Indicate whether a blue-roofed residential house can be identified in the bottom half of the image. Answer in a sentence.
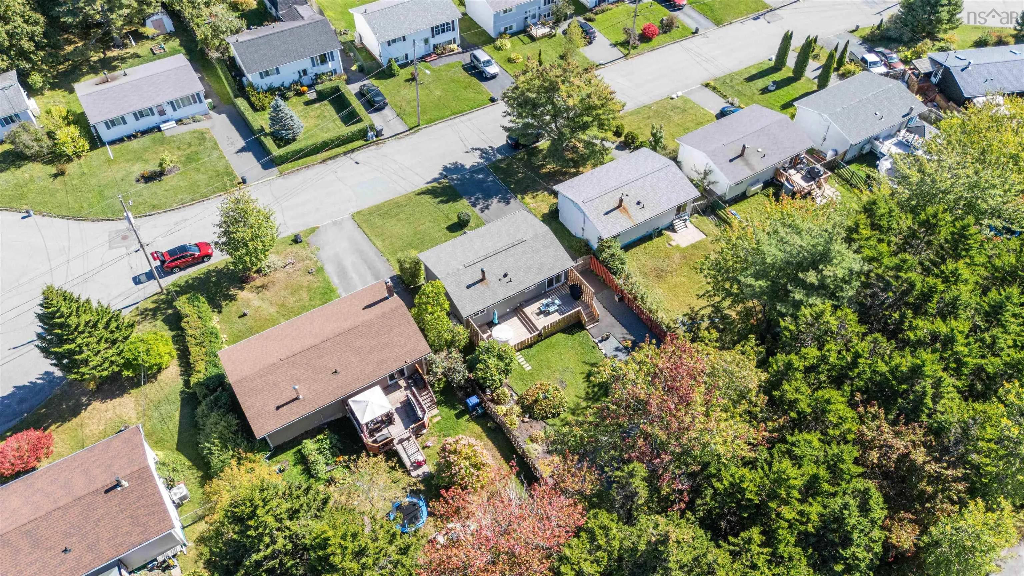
No, the scene shows no blue-roofed residential house in the bottom half of the image.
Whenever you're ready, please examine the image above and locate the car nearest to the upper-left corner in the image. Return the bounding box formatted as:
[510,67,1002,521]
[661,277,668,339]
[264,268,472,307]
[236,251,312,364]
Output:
[144,241,215,274]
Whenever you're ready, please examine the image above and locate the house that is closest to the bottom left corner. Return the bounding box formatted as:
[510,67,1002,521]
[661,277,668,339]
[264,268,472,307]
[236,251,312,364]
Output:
[0,422,191,576]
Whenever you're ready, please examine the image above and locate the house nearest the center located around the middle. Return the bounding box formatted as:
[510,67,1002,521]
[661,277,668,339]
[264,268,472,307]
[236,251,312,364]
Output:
[417,208,576,332]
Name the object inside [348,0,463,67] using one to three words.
house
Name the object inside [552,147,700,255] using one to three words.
house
